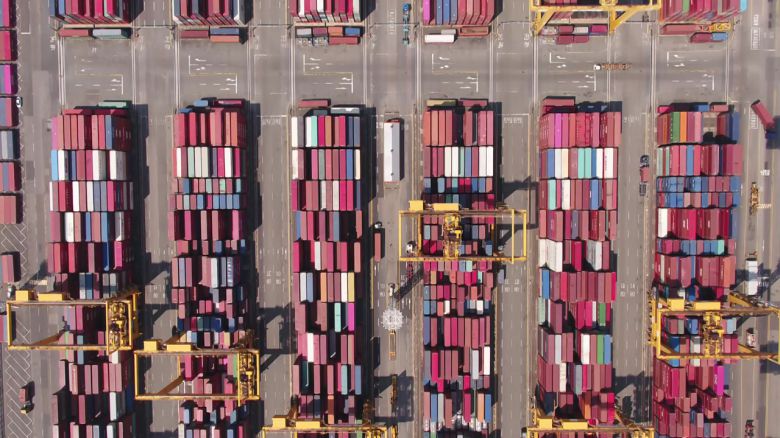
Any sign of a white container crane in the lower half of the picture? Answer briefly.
No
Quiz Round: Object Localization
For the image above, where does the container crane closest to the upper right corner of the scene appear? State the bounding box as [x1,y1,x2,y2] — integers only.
[529,0,658,38]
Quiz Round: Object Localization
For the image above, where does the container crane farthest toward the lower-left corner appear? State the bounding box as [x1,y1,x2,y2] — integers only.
[7,283,142,356]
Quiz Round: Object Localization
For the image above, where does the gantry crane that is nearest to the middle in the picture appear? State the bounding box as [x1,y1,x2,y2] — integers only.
[401,196,526,266]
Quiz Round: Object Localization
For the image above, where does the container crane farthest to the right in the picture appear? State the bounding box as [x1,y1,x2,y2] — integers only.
[649,290,780,364]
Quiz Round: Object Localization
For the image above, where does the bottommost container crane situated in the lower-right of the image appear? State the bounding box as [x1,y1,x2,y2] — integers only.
[528,399,657,438]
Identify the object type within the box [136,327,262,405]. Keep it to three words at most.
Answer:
container crane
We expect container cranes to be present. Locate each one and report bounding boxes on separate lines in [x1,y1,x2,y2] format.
[528,399,657,438]
[401,196,526,266]
[264,396,387,438]
[649,290,780,364]
[529,0,658,38]
[136,327,262,405]
[7,283,142,356]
